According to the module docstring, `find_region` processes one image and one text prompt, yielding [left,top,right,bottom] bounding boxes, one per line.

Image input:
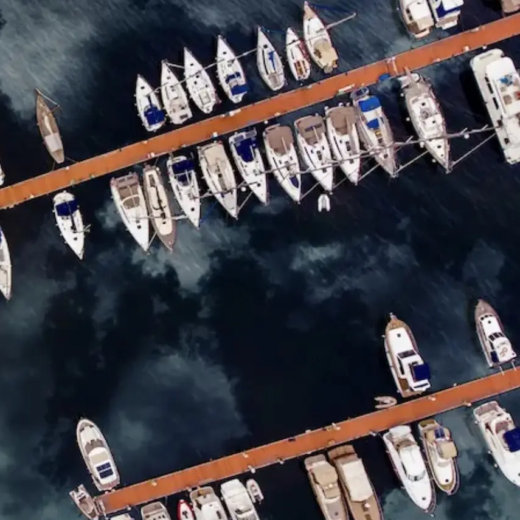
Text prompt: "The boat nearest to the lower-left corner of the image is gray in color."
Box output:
[70,485,100,520]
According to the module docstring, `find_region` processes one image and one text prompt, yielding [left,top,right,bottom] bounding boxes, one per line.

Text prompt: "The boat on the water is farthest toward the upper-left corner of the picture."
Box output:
[32,81,65,165]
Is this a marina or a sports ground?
marina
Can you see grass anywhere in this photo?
No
